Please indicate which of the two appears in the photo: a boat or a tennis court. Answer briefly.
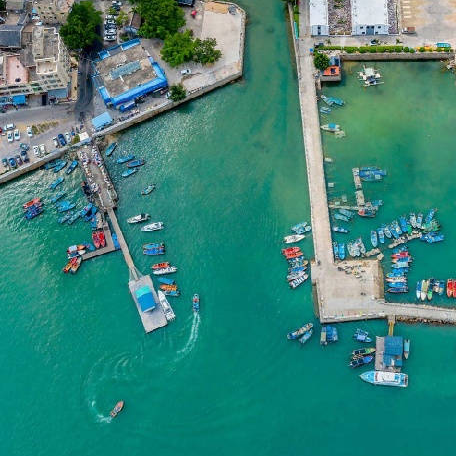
boat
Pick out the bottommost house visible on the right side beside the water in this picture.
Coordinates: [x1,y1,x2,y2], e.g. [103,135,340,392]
[320,52,341,82]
